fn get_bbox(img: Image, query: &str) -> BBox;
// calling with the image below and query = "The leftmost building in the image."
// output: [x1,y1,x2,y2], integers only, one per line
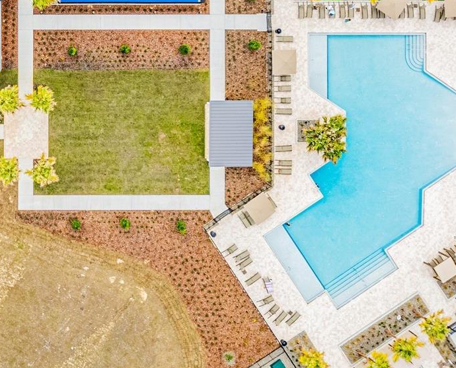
[204,100,253,167]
